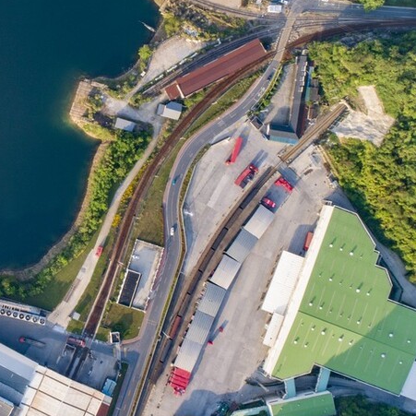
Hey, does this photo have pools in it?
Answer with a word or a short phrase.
No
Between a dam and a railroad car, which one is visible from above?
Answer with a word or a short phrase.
railroad car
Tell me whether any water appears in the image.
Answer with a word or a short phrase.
Yes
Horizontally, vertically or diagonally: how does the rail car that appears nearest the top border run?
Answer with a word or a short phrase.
diagonally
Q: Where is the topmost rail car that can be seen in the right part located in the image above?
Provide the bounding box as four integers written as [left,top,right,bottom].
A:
[254,172,274,194]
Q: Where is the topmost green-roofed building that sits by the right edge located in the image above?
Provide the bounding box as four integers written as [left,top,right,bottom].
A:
[265,204,416,397]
